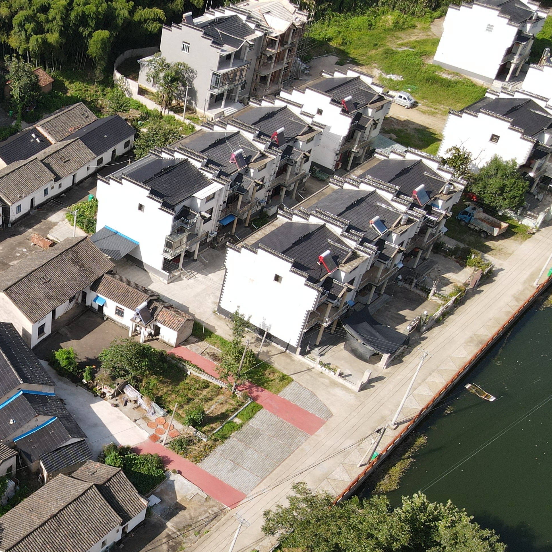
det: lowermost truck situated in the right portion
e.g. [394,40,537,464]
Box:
[455,204,510,235]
